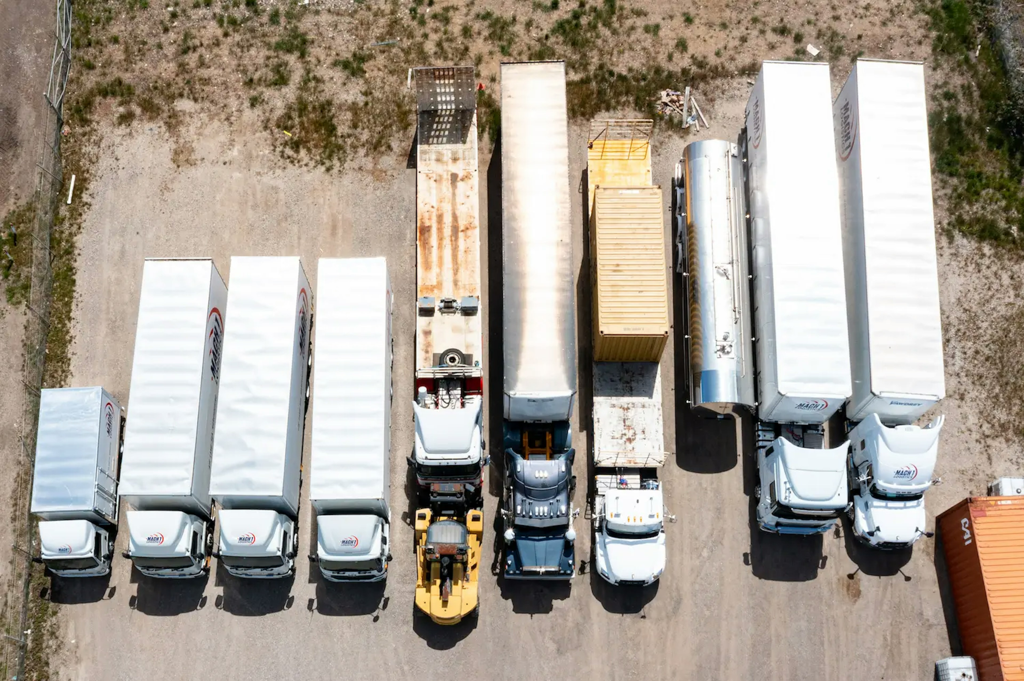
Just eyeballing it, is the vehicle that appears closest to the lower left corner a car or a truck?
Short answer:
truck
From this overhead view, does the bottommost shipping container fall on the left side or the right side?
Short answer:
right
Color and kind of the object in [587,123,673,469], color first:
white trailer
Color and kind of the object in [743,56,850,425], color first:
white trailer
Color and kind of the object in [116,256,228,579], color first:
white truck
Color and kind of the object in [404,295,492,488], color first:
white truck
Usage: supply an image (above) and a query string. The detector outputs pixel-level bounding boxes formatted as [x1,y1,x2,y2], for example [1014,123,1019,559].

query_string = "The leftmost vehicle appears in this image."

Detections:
[31,384,125,574]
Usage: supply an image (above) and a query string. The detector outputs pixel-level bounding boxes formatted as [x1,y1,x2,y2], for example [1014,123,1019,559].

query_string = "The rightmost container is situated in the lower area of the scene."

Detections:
[938,496,1024,681]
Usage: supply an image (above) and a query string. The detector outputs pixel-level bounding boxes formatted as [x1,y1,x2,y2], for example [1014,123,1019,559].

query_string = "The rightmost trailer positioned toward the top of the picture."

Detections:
[832,54,945,425]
